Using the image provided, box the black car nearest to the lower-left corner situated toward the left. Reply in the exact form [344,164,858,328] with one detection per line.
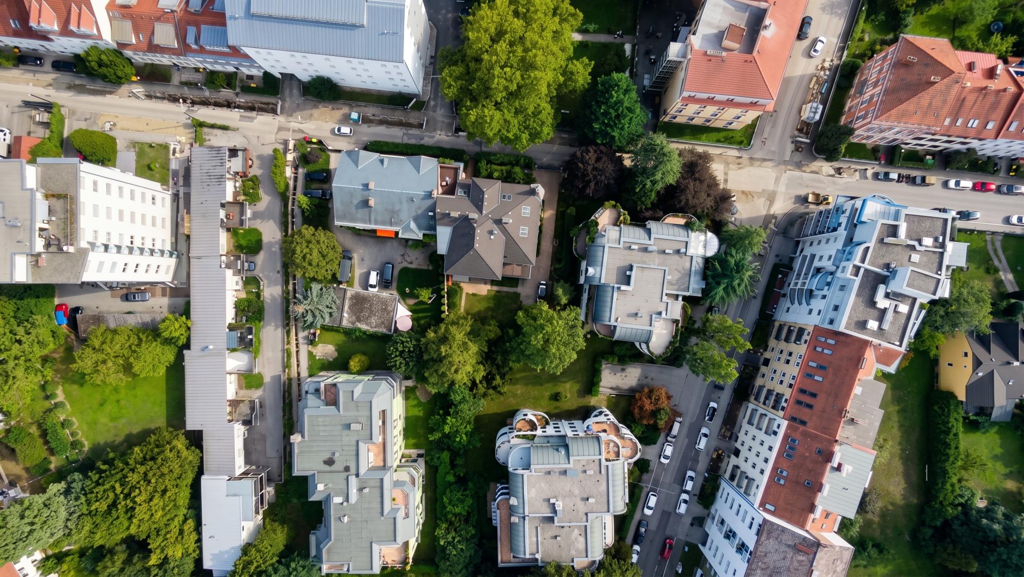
[72,306,85,330]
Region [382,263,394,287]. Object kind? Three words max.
vehicle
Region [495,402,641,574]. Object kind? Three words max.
building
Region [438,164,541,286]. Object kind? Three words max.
house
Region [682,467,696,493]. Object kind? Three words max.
car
